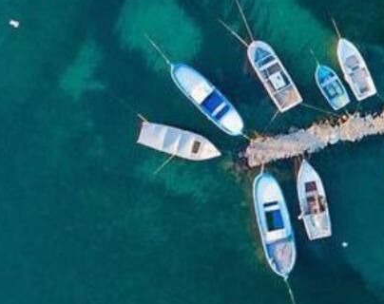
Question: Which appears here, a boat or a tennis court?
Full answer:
Of the two, only a boat appears.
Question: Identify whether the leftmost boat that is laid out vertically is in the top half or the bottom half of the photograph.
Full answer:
It is in the bottom half that the leftmost boat that is laid out vertically appears.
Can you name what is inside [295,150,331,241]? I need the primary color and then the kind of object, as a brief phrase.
white boat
